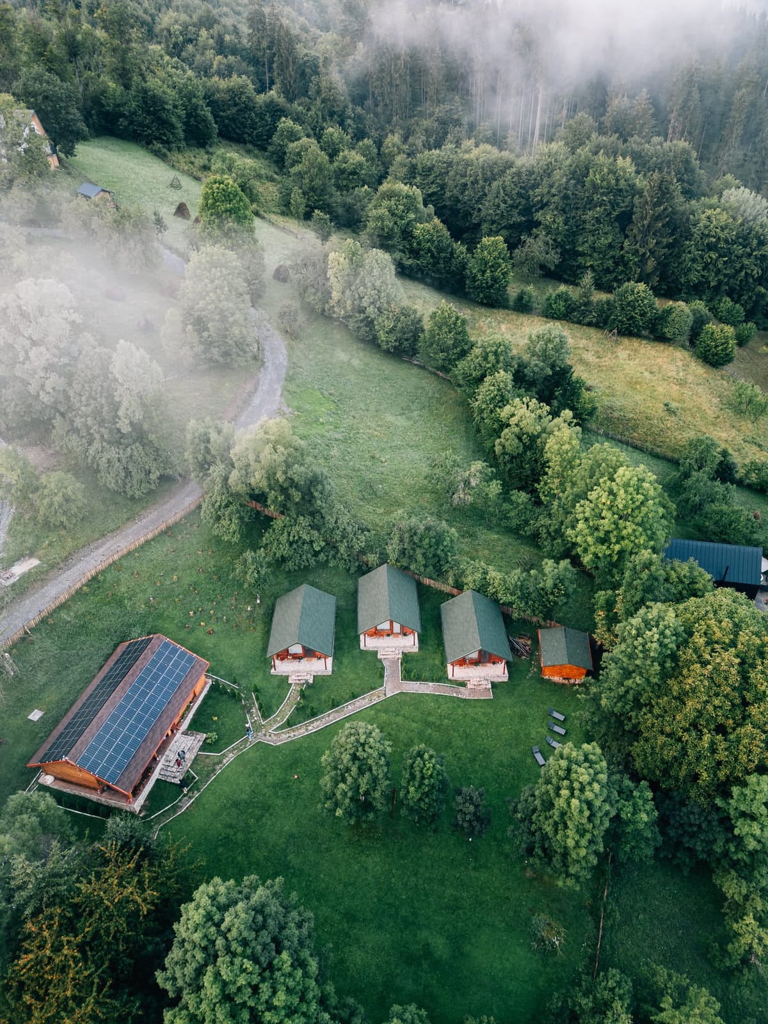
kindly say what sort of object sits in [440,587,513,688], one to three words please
building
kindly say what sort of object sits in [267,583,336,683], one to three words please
building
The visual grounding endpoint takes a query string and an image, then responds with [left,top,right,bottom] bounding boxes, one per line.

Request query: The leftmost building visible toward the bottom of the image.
[25,633,213,812]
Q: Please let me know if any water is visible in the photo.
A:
No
